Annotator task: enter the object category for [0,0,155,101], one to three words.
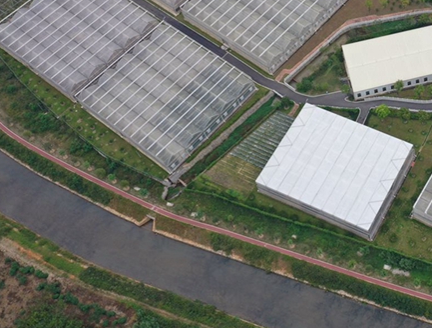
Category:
greenhouse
